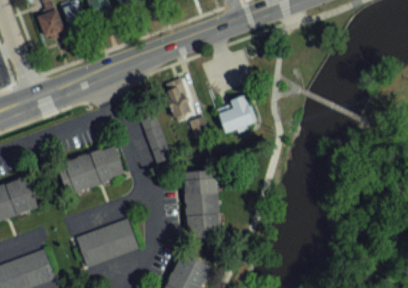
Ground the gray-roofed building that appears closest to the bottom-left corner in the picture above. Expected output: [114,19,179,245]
[0,250,54,288]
